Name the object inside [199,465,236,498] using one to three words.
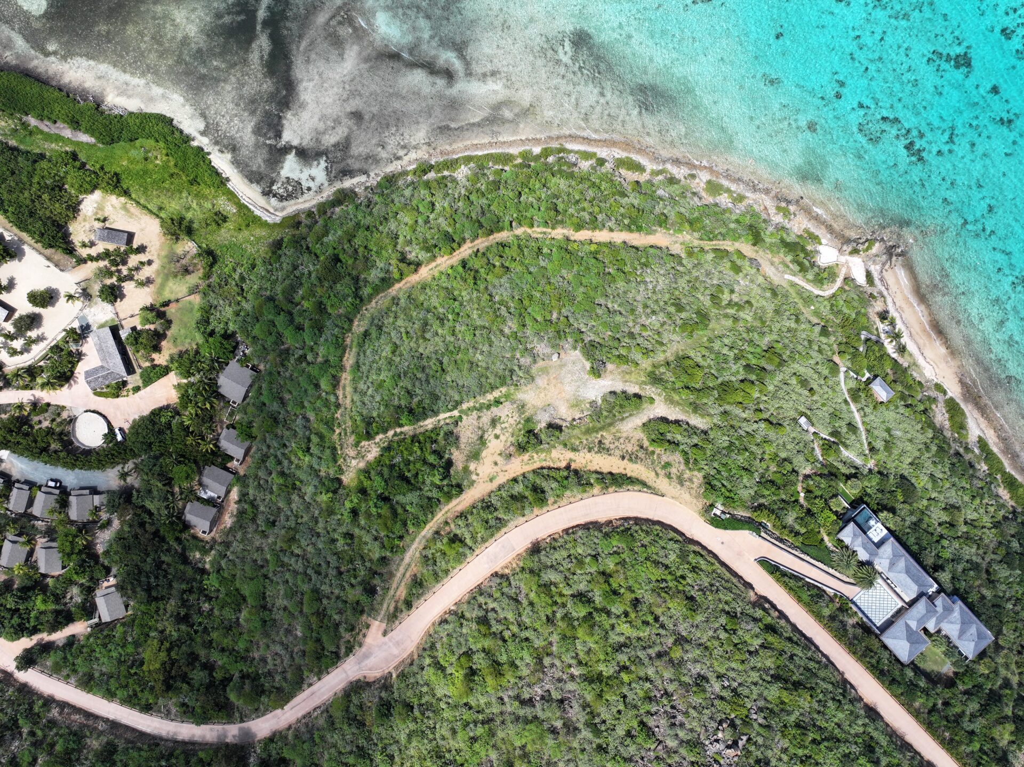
house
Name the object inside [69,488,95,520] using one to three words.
house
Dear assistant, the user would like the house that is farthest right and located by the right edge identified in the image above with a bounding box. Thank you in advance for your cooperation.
[923,591,995,662]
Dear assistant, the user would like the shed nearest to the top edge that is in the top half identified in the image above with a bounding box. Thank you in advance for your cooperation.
[94,228,131,246]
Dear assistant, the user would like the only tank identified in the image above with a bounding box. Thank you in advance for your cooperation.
[71,411,113,449]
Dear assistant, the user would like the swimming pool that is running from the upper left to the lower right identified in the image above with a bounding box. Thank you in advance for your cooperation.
[851,504,898,546]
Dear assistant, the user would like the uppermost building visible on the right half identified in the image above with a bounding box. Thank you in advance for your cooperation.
[867,377,895,402]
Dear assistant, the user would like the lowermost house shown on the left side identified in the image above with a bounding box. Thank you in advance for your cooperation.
[96,585,128,623]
